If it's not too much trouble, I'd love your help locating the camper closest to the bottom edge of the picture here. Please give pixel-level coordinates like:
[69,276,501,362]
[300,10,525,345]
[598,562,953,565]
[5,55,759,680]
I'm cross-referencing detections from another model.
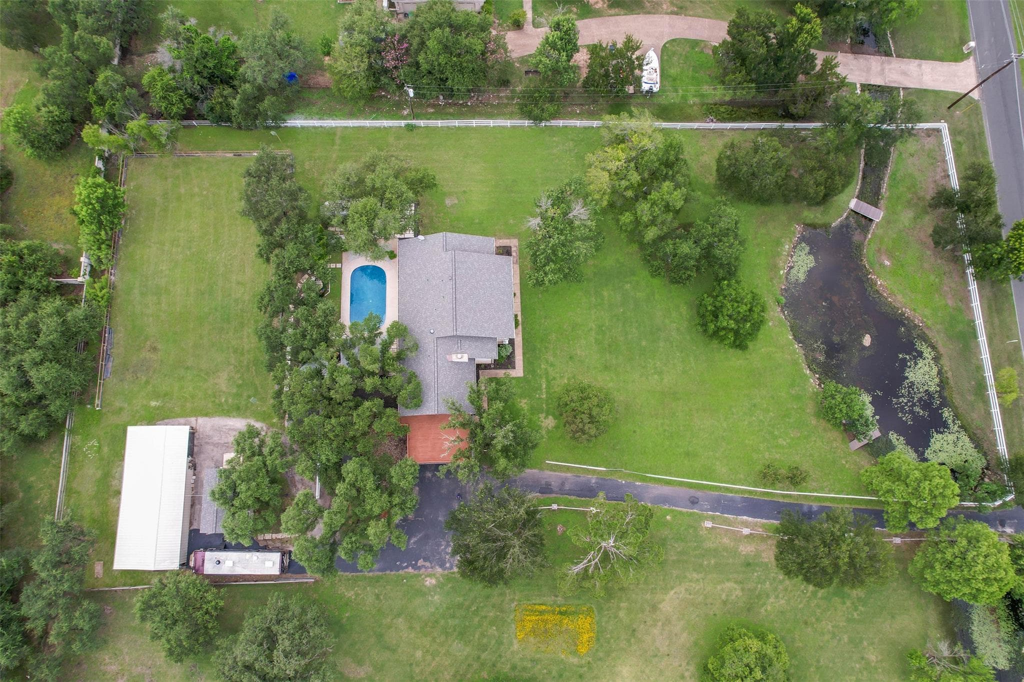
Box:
[192,546,295,576]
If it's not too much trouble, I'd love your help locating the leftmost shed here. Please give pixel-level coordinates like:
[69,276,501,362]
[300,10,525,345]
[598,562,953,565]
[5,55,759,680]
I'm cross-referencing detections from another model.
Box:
[115,425,200,571]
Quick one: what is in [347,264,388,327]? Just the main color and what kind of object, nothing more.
blue swimming pool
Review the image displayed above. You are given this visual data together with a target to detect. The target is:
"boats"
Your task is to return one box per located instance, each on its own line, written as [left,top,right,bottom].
[643,46,662,95]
